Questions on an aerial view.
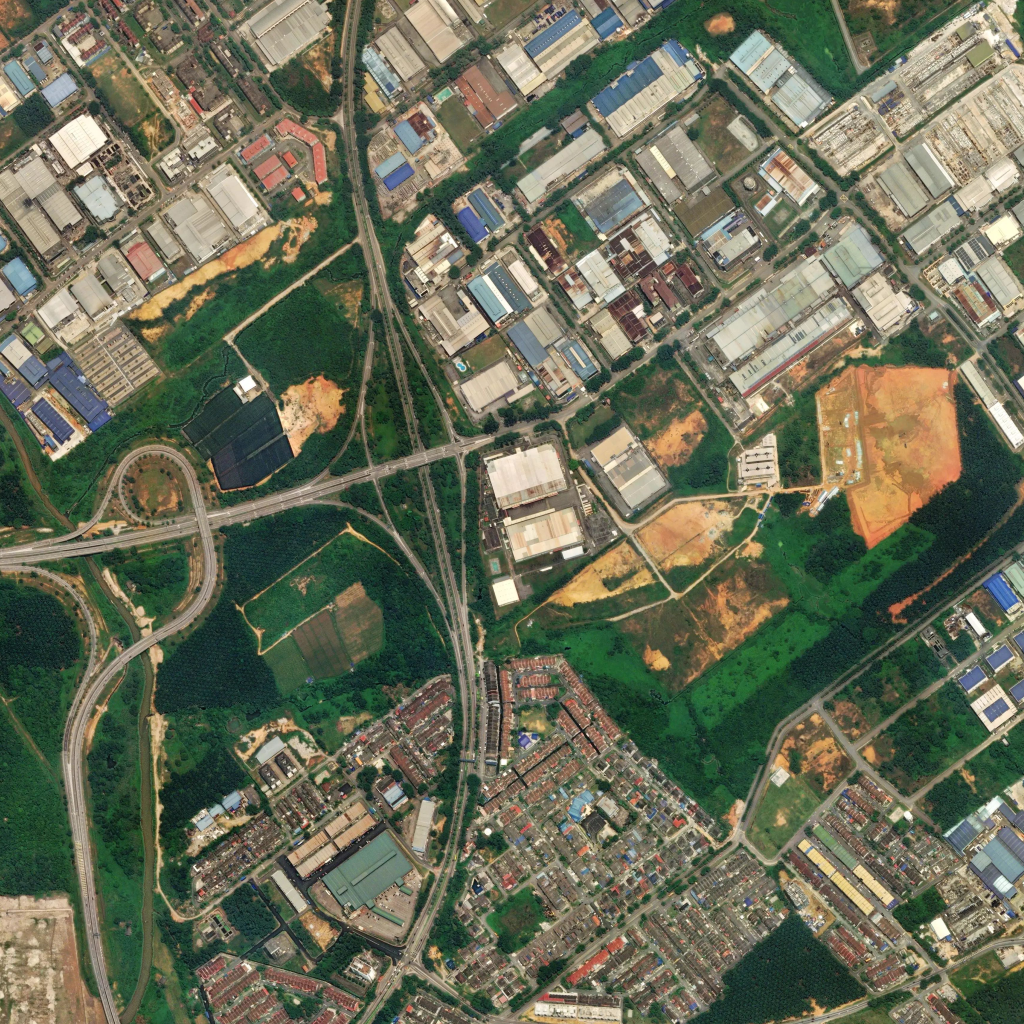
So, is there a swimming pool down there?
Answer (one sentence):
Yes, there is a swimming pool in the image.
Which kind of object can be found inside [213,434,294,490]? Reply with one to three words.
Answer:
house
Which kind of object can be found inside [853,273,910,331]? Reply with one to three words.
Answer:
building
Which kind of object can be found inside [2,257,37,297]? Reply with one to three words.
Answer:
building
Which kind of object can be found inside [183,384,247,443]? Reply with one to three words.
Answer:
house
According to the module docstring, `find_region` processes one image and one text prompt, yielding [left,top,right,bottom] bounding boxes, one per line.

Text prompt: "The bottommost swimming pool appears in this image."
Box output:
[452,357,473,378]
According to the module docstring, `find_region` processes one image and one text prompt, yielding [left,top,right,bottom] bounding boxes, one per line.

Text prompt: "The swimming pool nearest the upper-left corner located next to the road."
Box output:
[433,86,454,103]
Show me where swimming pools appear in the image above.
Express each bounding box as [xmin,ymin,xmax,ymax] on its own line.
[452,357,473,378]
[433,86,454,103]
